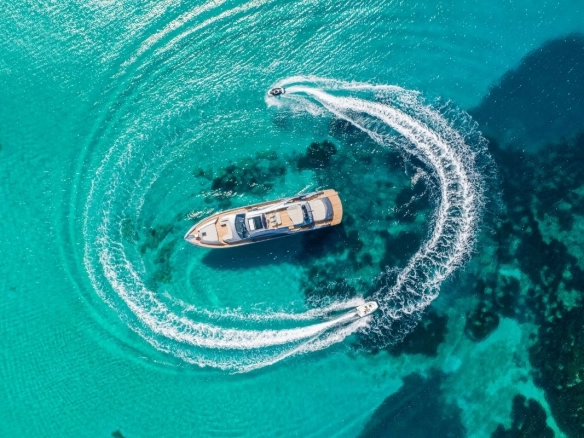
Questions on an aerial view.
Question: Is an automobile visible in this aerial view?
No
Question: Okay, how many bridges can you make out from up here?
0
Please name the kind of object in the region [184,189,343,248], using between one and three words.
boat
